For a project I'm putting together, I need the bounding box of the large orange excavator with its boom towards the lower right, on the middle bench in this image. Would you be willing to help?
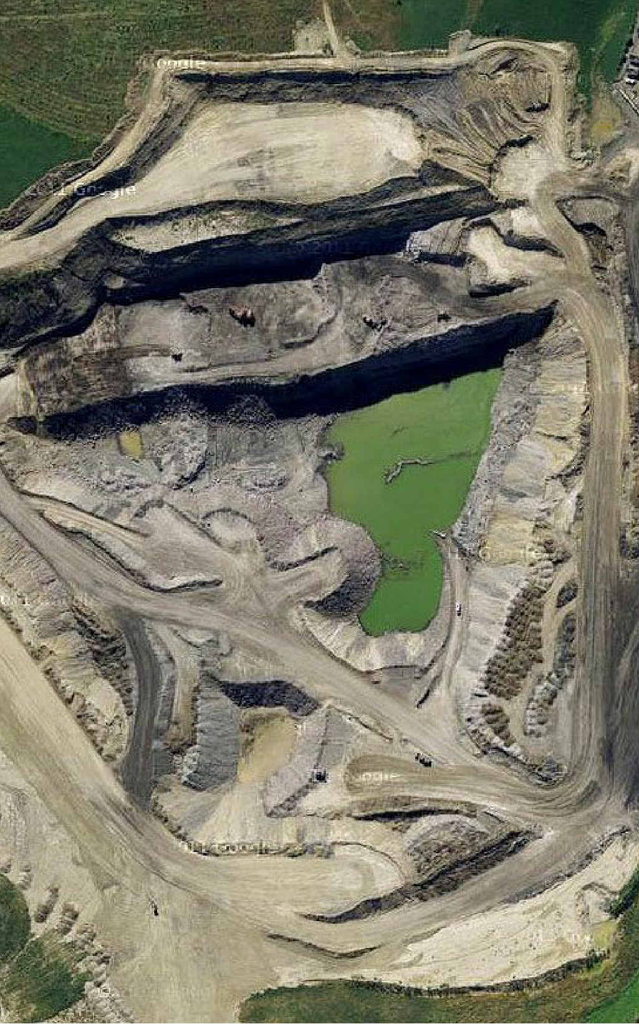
[230,305,251,323]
